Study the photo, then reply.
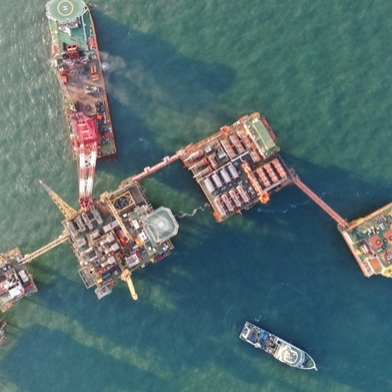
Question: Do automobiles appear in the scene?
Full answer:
No, the scene contains no automobile.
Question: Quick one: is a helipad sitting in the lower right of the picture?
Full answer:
No, the scene shows no helipad in the lower right of the picture.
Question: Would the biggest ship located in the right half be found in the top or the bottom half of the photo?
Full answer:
The biggest ship located in the right half sits in the bottom half of the picture.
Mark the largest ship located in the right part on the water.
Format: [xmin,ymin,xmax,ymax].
[239,321,319,371]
